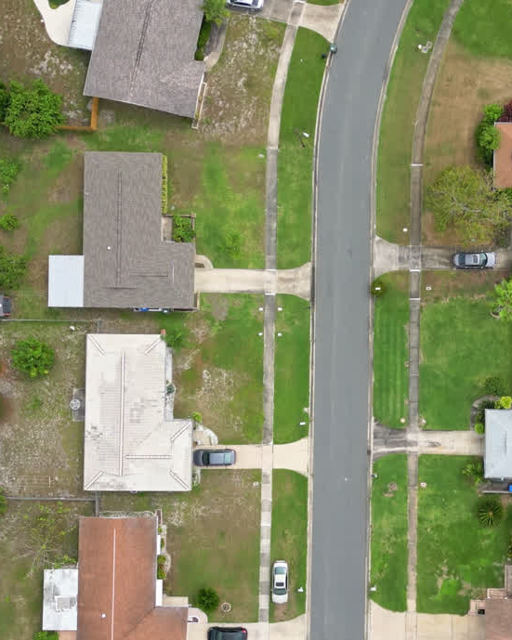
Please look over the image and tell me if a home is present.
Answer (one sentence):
Yes, a home appears in the view.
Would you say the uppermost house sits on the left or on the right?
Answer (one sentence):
The uppermost house is on the left side of the image.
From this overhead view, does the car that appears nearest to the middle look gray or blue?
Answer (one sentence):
The car that appears nearest to the middle looks gray in the image.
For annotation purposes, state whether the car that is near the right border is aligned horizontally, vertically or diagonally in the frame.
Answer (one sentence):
The car that is near the right border has been laid out horizontally relative to the frame.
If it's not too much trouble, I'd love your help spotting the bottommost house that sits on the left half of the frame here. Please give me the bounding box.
[43,515,190,640]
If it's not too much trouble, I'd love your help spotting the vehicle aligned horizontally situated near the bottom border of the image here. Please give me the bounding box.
[207,623,250,640]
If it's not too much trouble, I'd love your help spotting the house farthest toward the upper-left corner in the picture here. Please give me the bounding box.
[68,0,208,118]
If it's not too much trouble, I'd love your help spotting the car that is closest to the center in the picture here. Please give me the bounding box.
[194,447,237,467]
